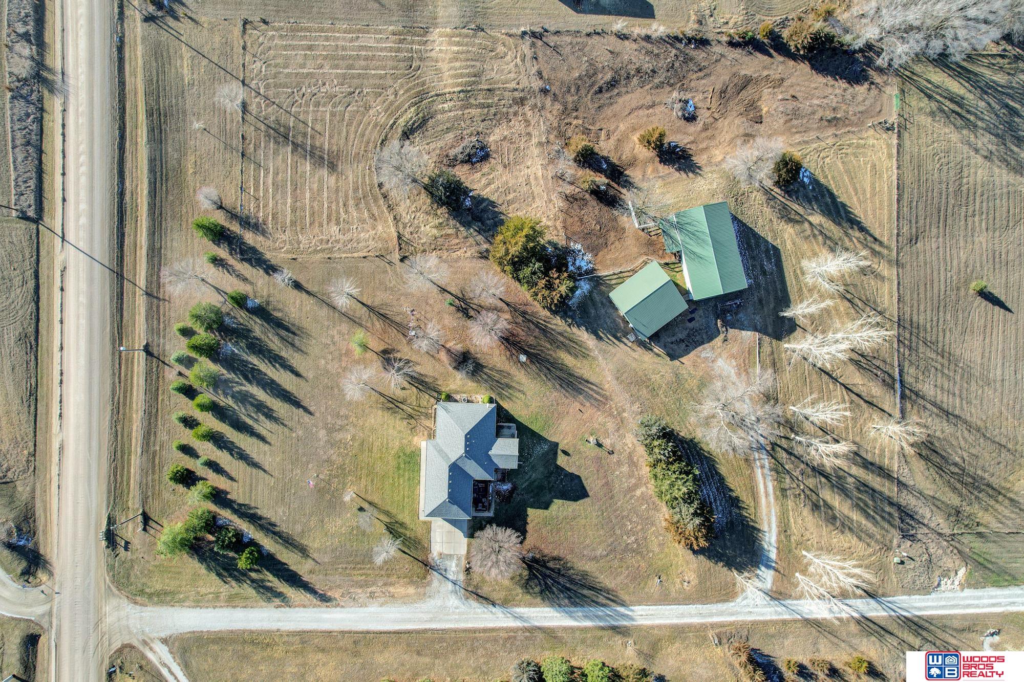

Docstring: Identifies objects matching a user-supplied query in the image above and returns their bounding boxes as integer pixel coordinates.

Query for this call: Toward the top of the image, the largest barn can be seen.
[673,201,748,300]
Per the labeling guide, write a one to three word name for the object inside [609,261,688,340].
barn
